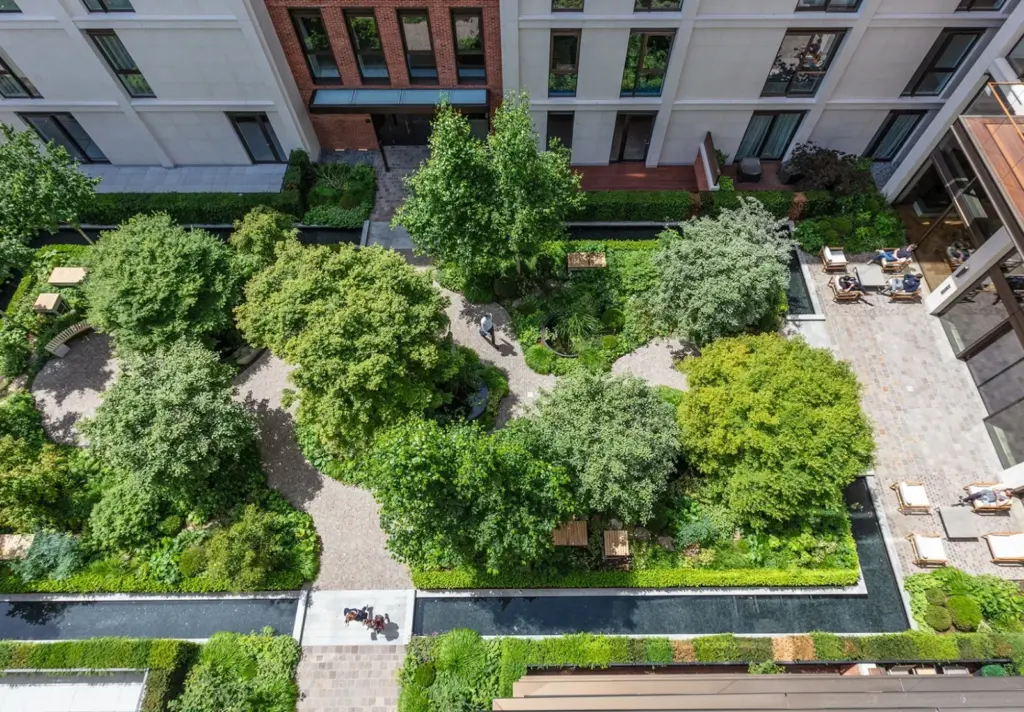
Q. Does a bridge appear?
Yes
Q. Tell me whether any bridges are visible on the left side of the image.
Yes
